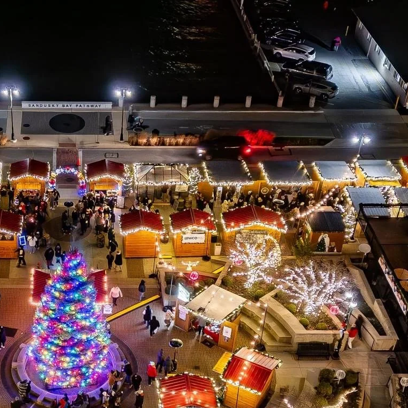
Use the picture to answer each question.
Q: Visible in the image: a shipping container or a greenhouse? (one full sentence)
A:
Looking from above, you can make out a greenhouse.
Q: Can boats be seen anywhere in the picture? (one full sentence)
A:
No, I can't see a single boat in this photo.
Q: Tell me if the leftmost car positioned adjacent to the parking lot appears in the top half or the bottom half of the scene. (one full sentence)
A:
You can find the leftmost car positioned adjacent to the parking lot in the top half.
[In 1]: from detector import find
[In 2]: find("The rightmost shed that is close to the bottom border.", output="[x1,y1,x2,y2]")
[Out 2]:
[213,347,281,408]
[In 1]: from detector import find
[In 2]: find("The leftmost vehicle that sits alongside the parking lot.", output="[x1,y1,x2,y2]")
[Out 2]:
[190,122,259,157]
